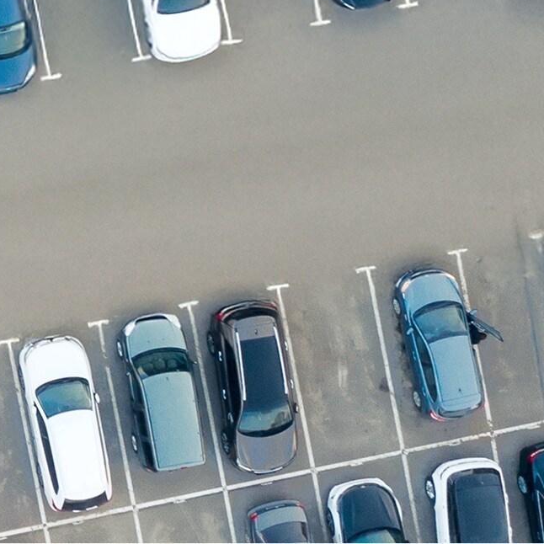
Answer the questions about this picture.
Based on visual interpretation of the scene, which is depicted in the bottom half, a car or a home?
car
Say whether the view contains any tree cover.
No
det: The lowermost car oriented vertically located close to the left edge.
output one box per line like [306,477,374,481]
[19,334,114,517]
